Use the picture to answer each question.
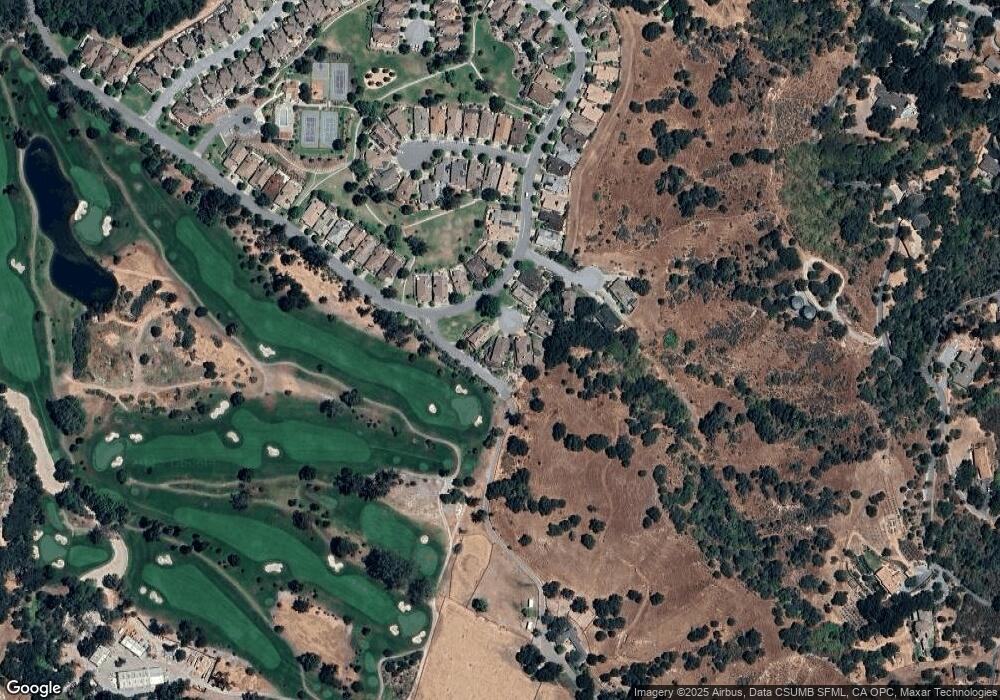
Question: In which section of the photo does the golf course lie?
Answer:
left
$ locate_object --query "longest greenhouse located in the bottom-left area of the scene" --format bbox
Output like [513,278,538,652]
[116,668,161,689]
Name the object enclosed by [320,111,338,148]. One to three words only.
tennis court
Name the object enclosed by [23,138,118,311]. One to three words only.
pond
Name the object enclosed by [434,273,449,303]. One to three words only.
house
